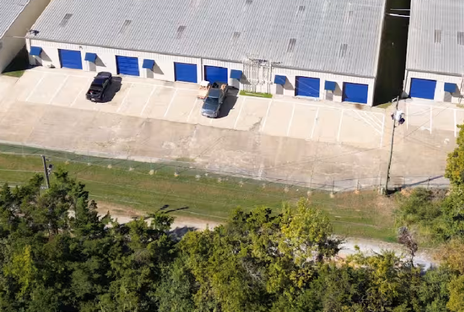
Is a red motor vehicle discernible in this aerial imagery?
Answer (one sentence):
No, no red motor vehicle is visible in the view.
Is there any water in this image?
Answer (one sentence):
No, there's no water in this view.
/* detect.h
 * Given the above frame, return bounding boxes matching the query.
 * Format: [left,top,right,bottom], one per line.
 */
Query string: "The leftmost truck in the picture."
[78,68,113,99]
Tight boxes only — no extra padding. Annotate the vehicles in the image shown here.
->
[78,68,113,99]
[200,78,229,110]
